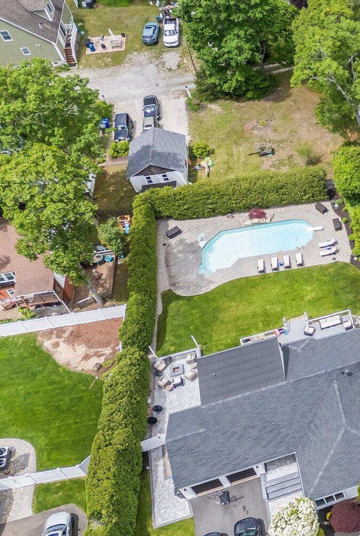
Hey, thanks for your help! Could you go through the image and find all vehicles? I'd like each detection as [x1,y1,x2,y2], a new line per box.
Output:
[140,114,159,137]
[140,92,161,120]
[234,516,262,536]
[161,19,179,45]
[110,111,132,142]
[40,511,75,536]
[142,26,159,44]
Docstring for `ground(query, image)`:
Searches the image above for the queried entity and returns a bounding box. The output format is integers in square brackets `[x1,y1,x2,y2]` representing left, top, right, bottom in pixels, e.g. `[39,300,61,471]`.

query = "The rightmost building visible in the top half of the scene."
[127,128,191,186]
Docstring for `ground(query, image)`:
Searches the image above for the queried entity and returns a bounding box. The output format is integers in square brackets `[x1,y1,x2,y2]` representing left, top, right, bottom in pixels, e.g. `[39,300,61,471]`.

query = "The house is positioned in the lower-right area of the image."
[166,324,360,508]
